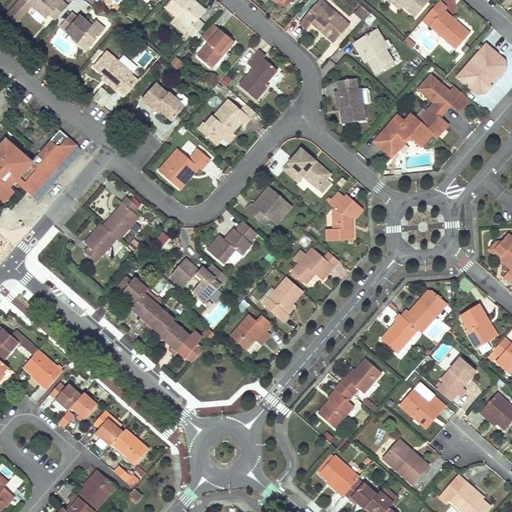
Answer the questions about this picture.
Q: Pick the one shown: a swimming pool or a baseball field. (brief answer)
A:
swimming pool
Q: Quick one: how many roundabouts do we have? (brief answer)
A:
2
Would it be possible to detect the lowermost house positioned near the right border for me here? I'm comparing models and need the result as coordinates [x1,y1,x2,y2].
[438,476,495,512]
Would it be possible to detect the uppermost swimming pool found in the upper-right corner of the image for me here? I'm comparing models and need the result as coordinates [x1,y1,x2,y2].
[420,31,436,50]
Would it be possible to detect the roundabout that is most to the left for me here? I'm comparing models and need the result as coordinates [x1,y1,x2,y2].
[172,402,266,505]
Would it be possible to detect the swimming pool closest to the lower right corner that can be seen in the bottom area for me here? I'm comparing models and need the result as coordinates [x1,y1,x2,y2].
[432,342,453,361]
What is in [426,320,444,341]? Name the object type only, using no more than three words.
swimming pool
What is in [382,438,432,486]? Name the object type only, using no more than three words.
house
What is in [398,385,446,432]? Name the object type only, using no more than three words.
house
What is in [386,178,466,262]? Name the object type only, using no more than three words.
roundabout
